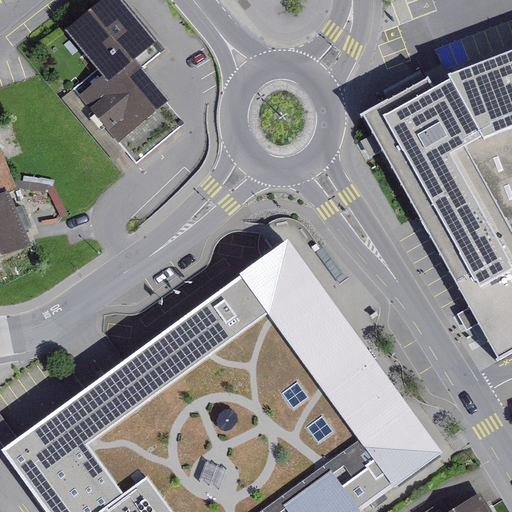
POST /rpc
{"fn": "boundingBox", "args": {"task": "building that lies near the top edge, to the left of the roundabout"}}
[65,0,184,163]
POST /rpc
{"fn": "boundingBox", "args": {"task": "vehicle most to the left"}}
[66,214,90,228]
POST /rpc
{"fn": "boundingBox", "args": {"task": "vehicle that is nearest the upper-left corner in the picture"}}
[186,50,206,66]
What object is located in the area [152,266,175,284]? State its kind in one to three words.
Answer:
car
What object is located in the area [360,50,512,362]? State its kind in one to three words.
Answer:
building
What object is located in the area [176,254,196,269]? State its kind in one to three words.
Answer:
car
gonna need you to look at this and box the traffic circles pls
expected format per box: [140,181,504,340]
[220,49,344,187]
